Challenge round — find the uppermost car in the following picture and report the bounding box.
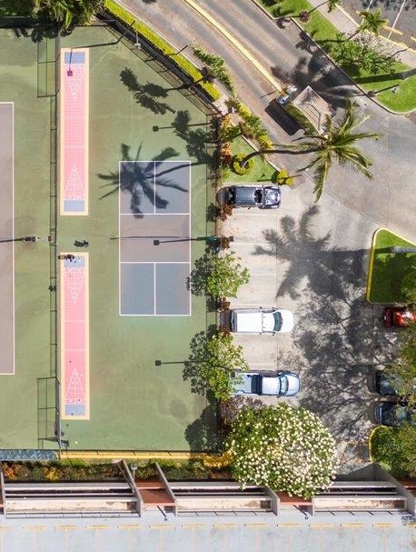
[222,182,283,210]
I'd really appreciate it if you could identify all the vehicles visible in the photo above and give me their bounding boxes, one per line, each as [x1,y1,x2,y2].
[222,182,283,210]
[372,401,416,428]
[232,371,300,399]
[381,305,415,328]
[230,307,294,336]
